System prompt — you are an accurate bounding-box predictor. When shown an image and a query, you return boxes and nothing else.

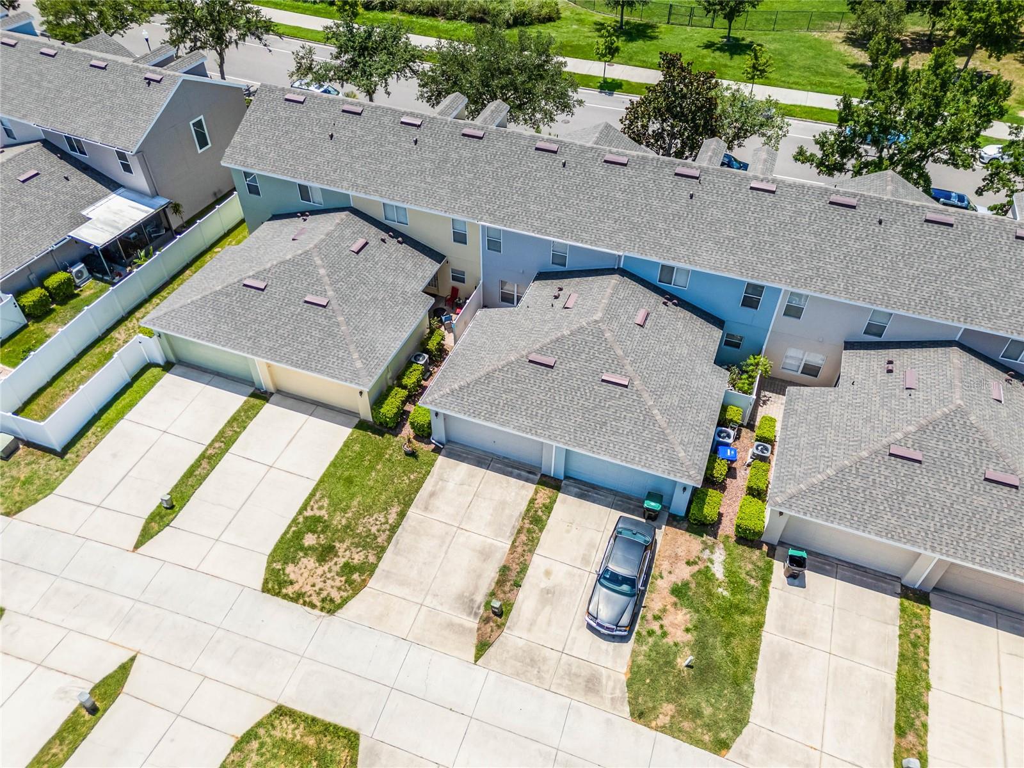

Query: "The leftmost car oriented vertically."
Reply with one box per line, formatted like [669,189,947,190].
[586,512,662,641]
